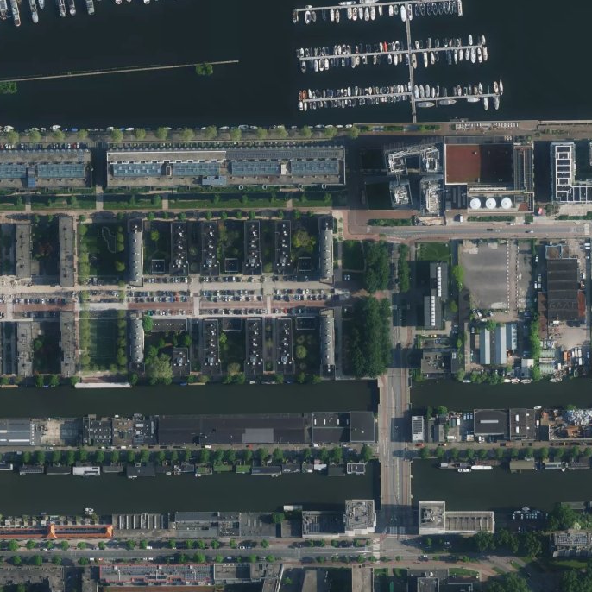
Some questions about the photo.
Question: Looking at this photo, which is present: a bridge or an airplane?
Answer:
bridge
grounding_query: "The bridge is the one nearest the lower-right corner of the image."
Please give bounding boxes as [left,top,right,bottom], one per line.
[376,460,412,508]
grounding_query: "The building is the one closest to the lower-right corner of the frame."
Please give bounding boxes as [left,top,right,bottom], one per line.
[553,534,592,556]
